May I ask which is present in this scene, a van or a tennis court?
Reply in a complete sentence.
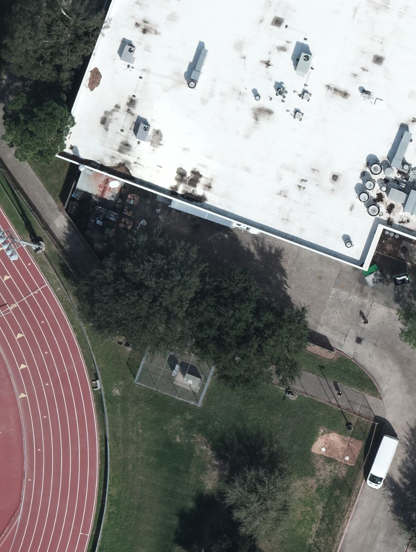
Visible in the photo is a van.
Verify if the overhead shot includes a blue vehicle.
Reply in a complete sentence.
No, I find no blue vehicle anywhere in the image.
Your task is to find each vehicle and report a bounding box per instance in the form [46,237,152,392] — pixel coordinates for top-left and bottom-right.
[233,223,261,240]
[368,436,398,490]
